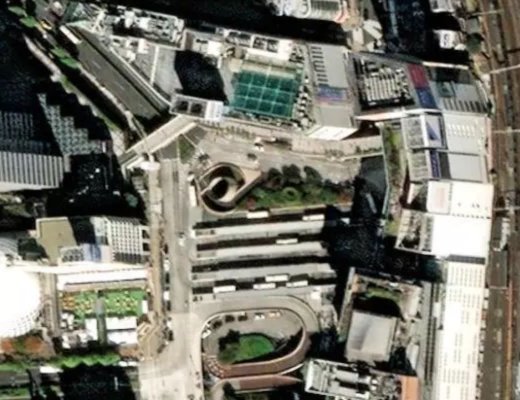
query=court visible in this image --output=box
[226,66,299,120]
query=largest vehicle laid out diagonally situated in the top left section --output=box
[59,25,82,45]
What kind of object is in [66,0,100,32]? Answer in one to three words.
building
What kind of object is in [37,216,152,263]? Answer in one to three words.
building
